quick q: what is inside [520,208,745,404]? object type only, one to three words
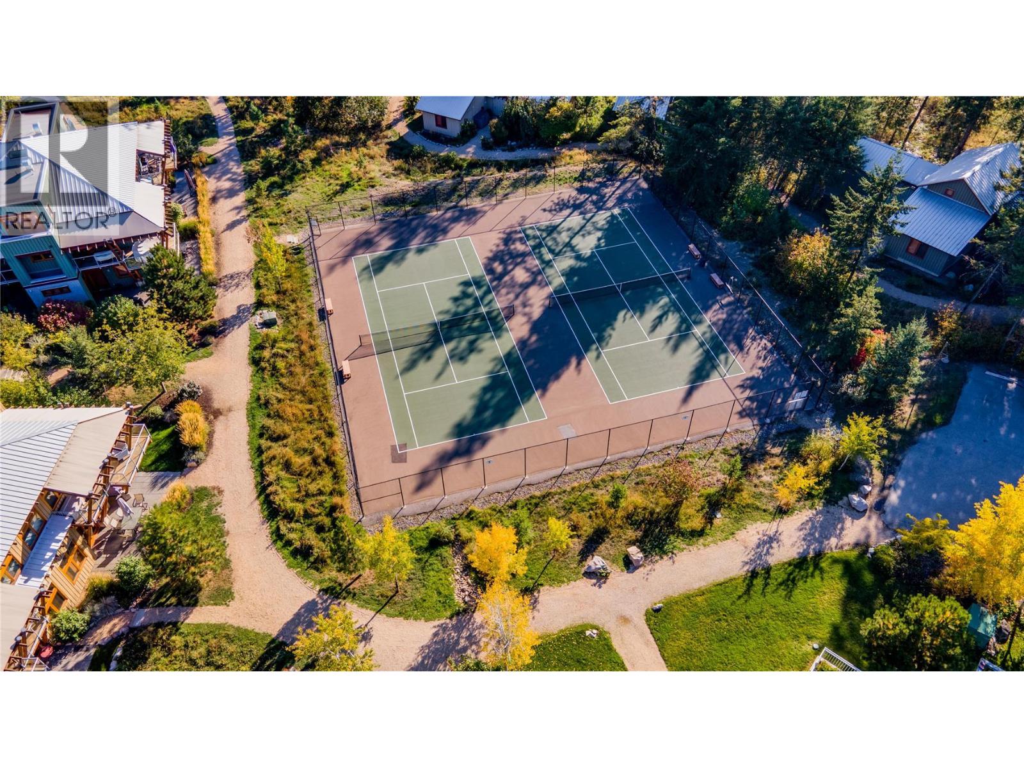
tennis court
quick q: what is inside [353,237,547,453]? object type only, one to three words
tennis court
